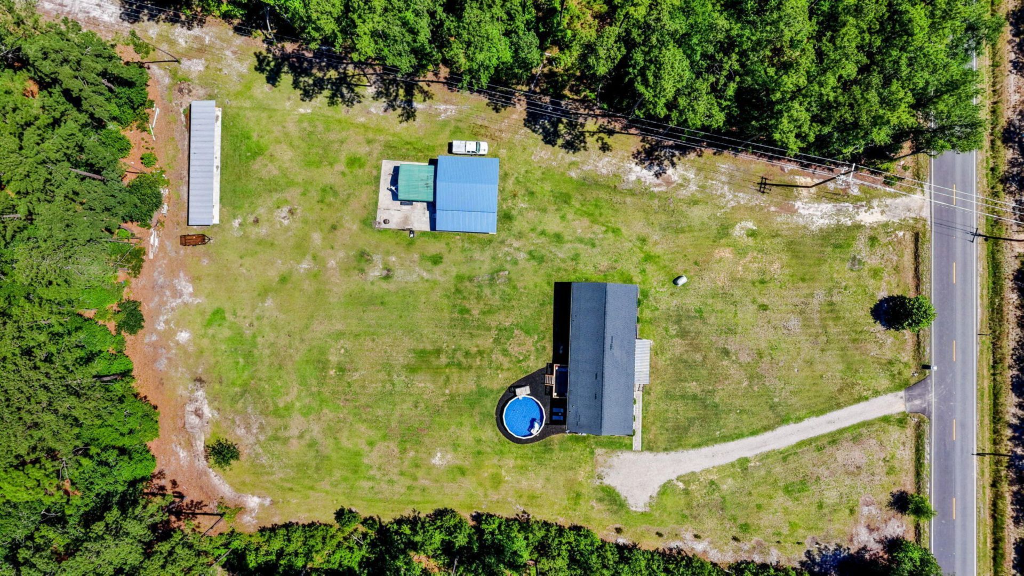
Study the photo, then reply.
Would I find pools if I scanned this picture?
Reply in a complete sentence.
Yes, there is a pool in the image.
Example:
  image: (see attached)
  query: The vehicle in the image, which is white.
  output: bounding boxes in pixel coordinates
[450,140,488,156]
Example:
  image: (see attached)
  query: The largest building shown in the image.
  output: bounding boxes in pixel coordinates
[566,282,639,436]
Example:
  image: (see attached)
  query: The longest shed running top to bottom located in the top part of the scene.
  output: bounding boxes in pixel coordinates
[188,100,223,226]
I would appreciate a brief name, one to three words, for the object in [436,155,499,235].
barn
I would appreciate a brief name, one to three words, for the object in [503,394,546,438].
swimming pool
